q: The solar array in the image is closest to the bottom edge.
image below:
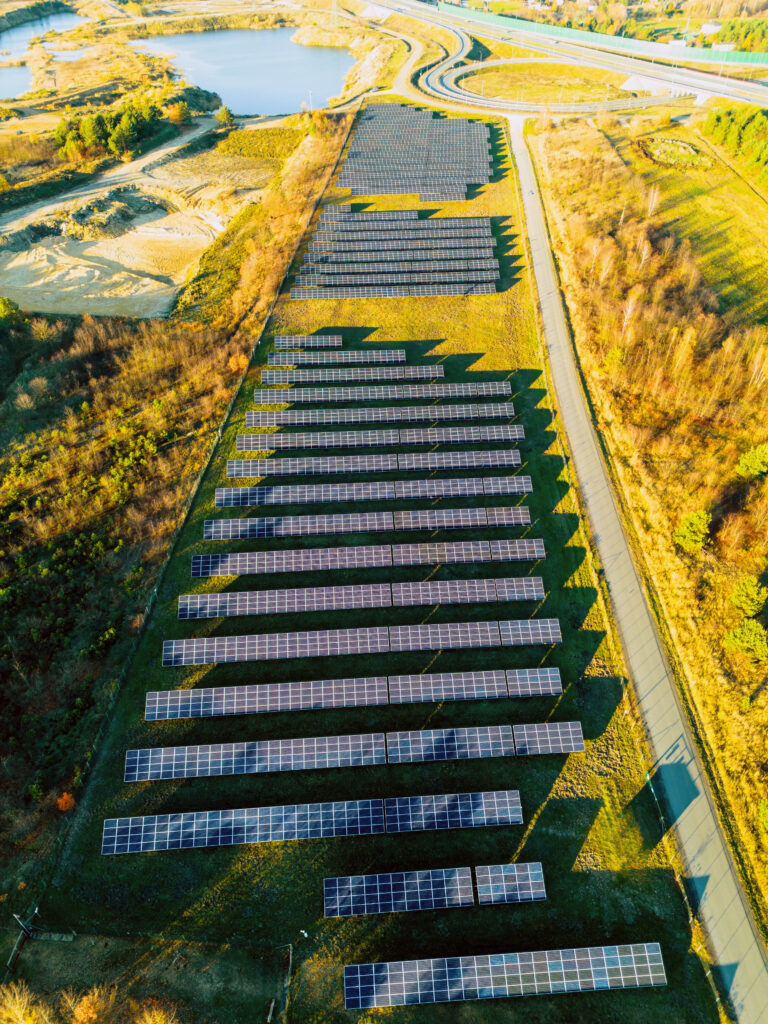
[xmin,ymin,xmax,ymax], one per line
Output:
[345,942,666,1011]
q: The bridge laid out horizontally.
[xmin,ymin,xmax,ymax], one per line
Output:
[619,75,716,105]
